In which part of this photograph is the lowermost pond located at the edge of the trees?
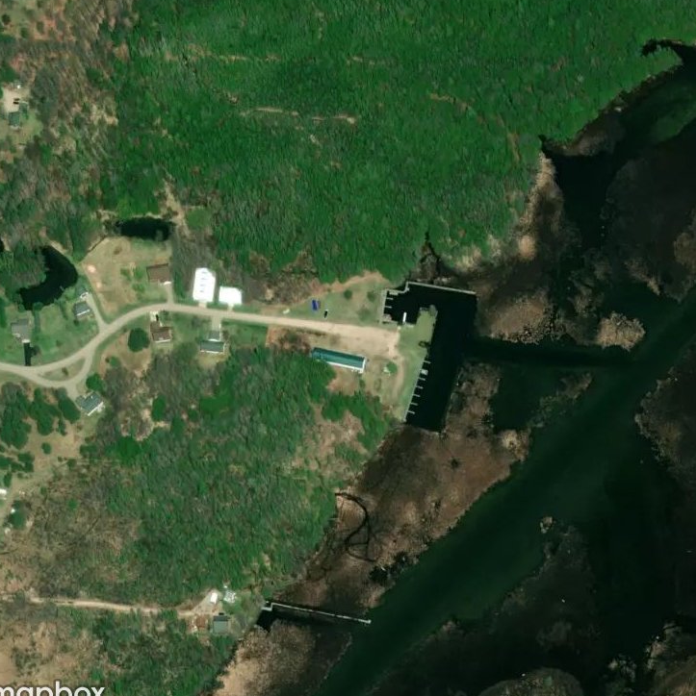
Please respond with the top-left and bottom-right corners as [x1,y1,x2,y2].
[20,246,78,310]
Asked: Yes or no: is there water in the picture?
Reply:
Yes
